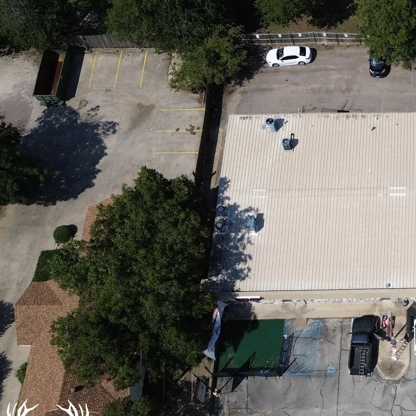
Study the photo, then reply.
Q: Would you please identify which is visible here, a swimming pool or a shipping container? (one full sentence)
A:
Looking from above, you can make out a shipping container.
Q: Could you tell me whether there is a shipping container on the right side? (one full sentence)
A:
No, on the right side there is no shipping container.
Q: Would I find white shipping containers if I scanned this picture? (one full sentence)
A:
No, I can't see a single white shipping container in this photo.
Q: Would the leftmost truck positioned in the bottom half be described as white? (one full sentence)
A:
No, the color of the leftmost truck positioned in the bottom half is black.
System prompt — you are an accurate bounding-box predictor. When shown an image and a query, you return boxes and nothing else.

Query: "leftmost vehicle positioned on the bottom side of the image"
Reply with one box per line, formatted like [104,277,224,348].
[348,318,383,379]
